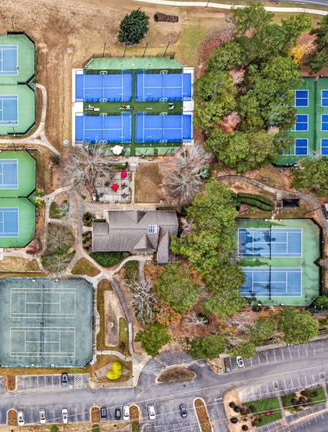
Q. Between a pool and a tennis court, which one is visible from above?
tennis court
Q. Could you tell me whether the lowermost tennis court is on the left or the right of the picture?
left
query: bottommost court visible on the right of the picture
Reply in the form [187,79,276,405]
[231,262,319,306]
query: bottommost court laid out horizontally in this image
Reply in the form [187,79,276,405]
[0,322,95,367]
